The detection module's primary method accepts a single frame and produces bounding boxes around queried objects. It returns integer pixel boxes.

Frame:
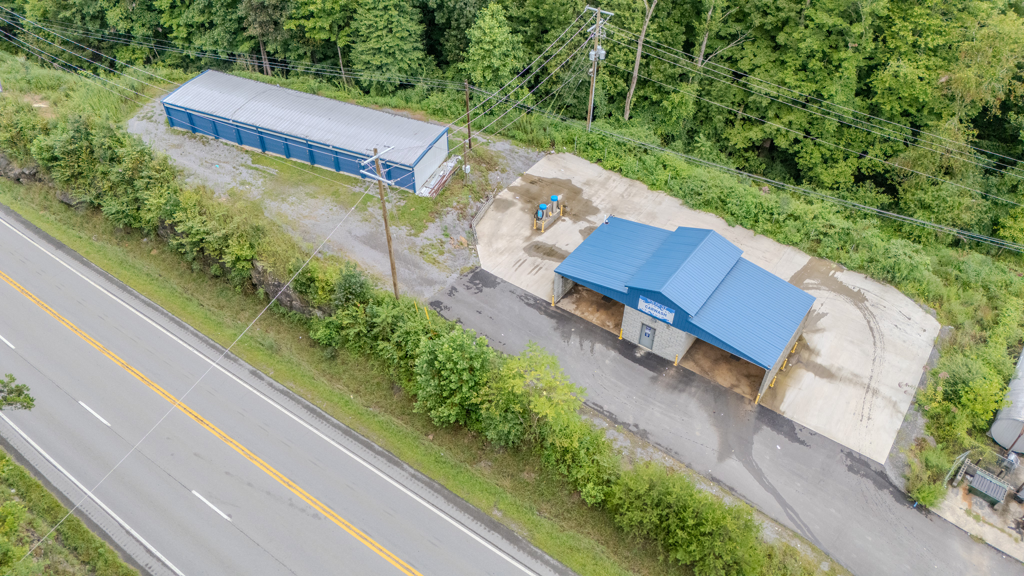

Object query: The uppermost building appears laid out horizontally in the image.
[161,68,453,193]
